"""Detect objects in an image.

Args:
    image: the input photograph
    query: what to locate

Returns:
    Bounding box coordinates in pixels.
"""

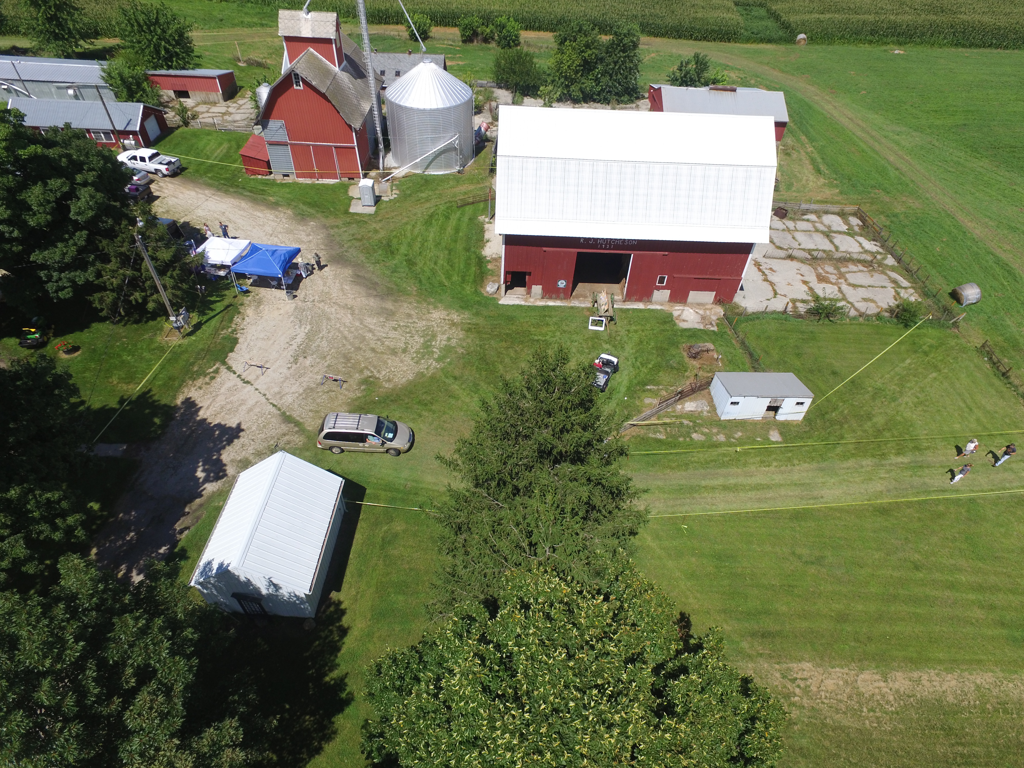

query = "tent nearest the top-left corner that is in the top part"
[192,236,253,287]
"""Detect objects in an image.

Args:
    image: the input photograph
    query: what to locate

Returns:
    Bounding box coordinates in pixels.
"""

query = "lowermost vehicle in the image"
[315,409,417,459]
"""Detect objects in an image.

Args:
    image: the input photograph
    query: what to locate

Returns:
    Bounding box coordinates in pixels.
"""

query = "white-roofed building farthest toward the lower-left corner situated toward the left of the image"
[181,453,354,616]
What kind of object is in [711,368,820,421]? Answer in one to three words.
building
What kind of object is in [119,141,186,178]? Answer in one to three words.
truck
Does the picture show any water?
No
